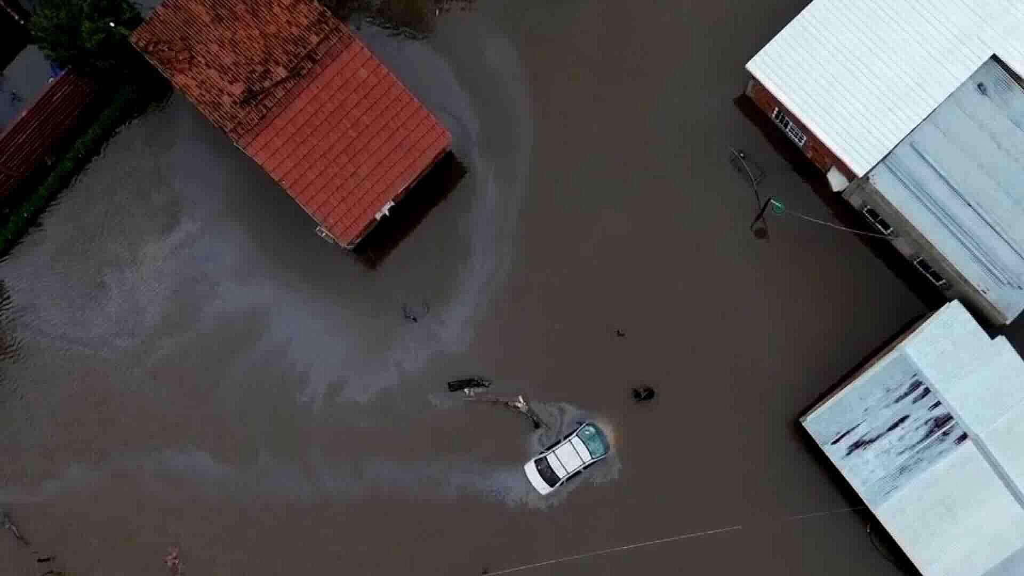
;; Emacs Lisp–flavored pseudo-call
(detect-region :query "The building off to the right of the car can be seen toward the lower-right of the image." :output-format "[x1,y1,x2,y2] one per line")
[799,298,1024,576]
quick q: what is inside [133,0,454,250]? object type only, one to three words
house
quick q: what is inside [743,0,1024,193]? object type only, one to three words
house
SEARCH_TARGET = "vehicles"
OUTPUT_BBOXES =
[524,419,611,494]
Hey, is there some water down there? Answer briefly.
Yes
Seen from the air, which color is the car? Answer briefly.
white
